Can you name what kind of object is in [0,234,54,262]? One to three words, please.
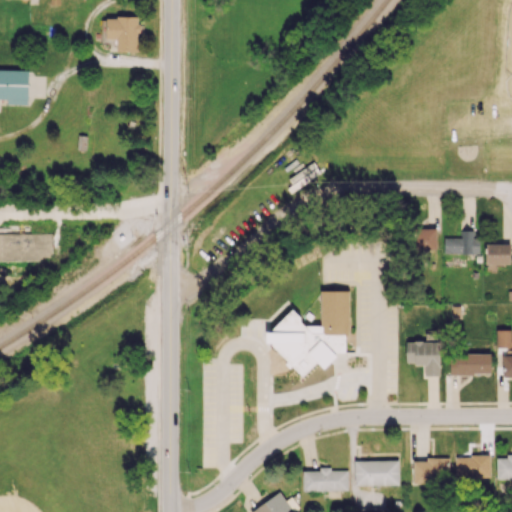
building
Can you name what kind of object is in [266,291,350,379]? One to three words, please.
building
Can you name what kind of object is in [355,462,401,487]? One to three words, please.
house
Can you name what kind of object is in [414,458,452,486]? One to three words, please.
house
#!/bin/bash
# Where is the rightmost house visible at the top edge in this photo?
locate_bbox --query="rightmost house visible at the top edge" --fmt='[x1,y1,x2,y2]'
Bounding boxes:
[102,16,146,52]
